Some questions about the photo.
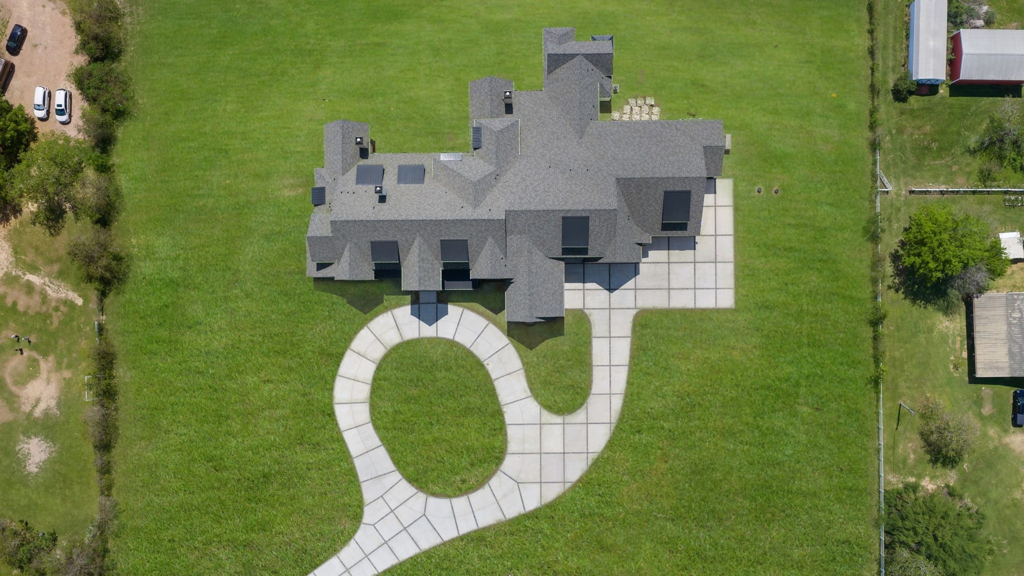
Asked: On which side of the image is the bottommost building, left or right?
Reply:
right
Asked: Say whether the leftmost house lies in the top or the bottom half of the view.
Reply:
top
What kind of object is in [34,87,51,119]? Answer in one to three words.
car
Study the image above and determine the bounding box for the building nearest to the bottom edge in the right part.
[966,292,1024,377]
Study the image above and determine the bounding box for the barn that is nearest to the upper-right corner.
[950,29,1024,82]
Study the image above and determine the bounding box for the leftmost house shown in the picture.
[306,27,731,323]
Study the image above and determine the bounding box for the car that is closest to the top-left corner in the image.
[9,24,28,56]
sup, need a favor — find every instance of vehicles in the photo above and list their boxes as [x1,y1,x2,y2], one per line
[34,87,51,119]
[0,58,14,98]
[56,90,73,123]
[1013,389,1024,427]
[9,24,28,56]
